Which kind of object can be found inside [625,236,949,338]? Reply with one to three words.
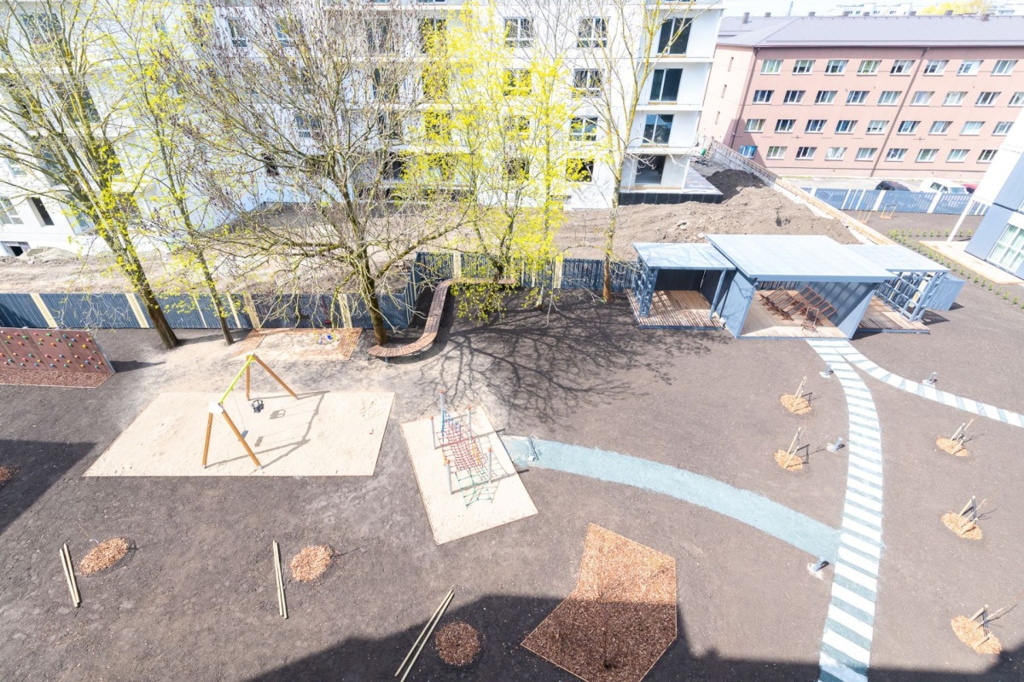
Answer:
building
